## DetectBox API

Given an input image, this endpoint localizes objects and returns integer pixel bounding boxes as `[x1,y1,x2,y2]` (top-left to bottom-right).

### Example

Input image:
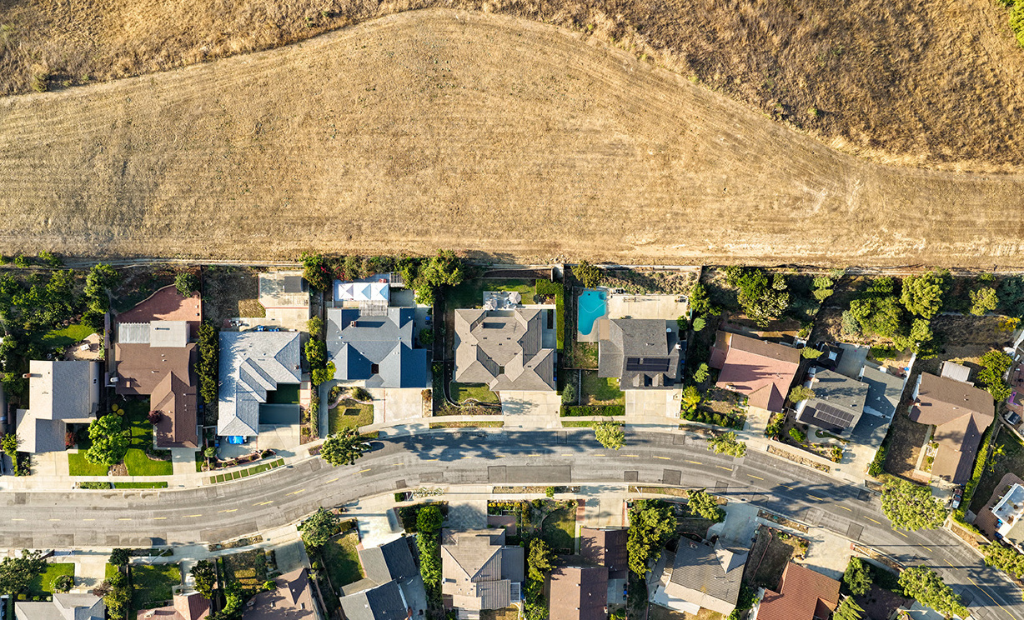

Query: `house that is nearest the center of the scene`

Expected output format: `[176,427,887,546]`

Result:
[455,309,554,391]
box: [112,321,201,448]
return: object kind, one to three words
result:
house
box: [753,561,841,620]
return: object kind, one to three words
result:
house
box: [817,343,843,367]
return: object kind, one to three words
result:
gazebo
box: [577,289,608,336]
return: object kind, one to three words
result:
swimming pool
